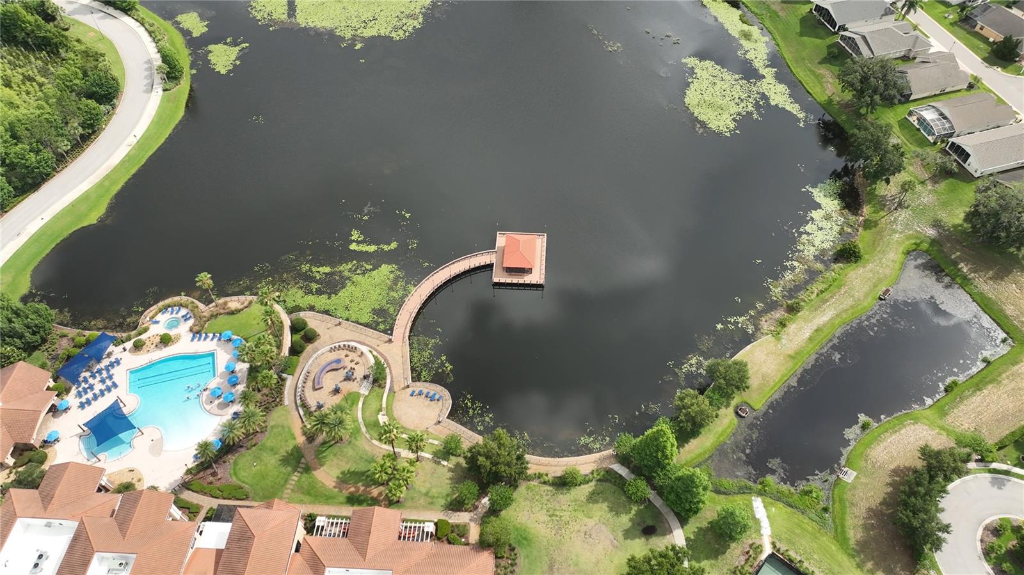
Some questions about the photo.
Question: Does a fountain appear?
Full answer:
Yes, the image includes a fountain.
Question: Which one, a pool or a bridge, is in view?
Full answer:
This aerial view contains a pool.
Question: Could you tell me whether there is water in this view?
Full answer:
Yes, water can be seen from above here.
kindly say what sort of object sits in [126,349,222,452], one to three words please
swimming pool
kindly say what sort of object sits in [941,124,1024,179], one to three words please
house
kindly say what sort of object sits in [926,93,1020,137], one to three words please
building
